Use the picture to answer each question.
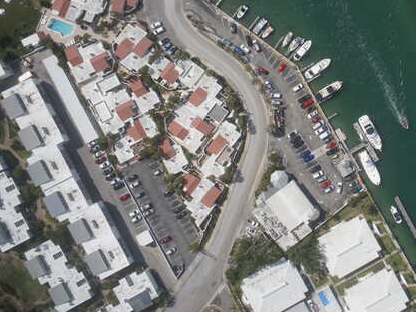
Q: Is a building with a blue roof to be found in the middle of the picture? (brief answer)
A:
No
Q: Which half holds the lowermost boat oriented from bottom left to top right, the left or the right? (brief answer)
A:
right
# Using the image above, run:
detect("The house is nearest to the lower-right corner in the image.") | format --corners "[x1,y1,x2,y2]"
[343,265,408,312]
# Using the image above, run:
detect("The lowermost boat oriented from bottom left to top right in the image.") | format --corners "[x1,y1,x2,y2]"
[313,81,343,102]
